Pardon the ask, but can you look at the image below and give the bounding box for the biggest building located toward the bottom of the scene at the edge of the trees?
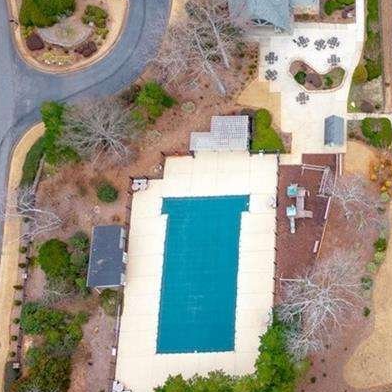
[86,226,131,287]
